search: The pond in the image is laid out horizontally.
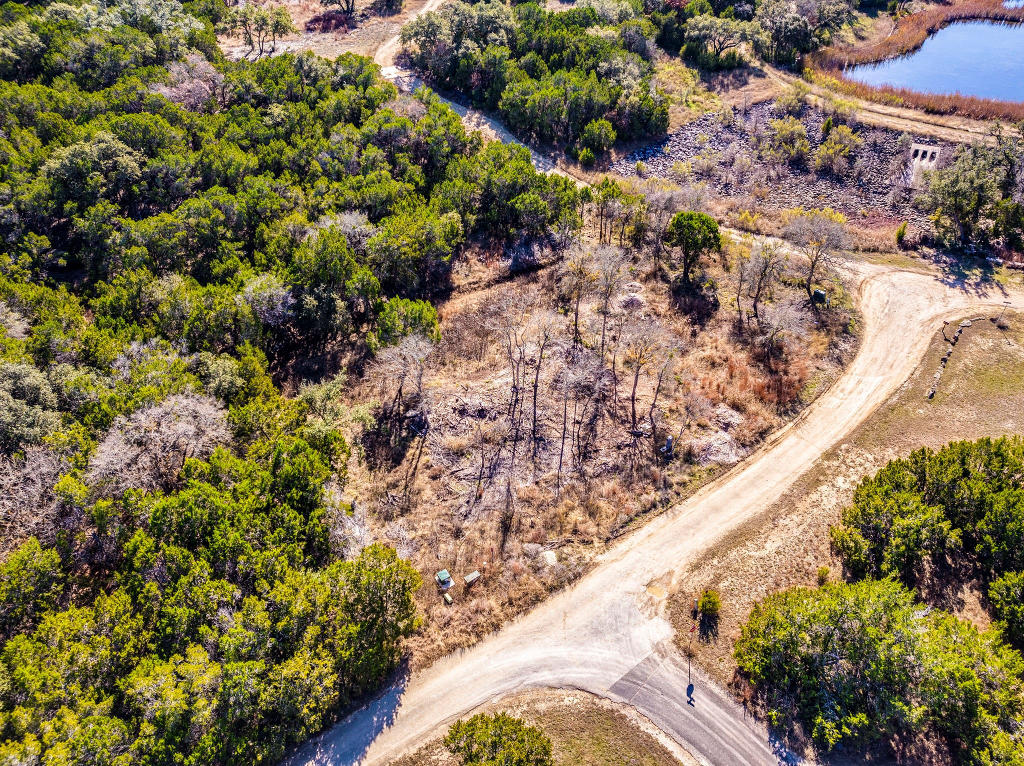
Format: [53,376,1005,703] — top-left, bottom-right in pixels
[845,20,1024,104]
